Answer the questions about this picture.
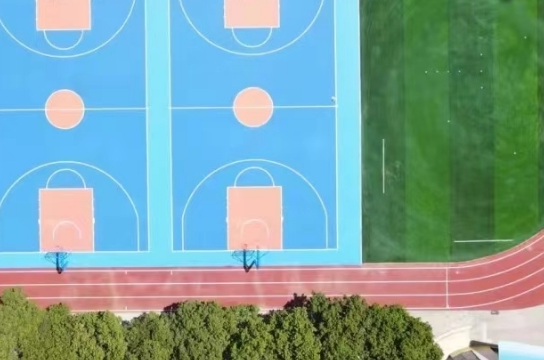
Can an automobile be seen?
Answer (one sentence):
No, there is no automobile in the image.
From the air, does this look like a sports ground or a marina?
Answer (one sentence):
This image shows a sports ground.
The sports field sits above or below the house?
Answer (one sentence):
Looking at the photo, you'll find the sports field above the house.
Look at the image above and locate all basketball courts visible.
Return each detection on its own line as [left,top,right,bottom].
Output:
[170,0,336,252]
[0,0,148,254]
